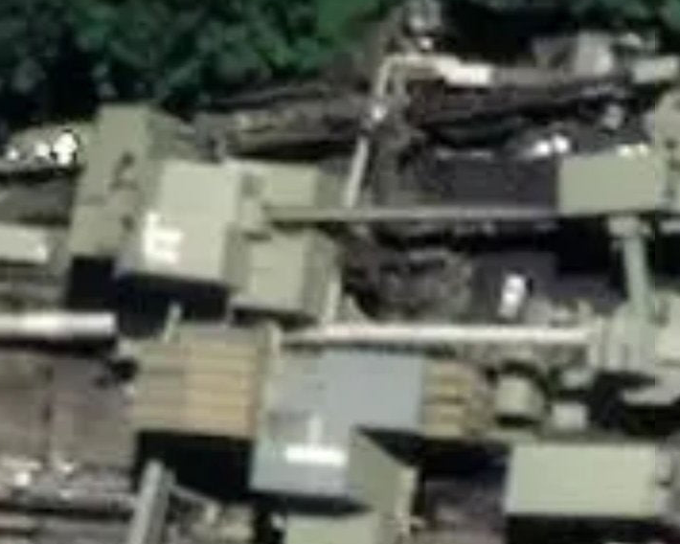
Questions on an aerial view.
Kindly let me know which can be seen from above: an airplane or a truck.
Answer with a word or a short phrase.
truck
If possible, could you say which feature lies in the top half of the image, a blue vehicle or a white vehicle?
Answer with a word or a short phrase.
white vehicle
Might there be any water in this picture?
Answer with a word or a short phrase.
No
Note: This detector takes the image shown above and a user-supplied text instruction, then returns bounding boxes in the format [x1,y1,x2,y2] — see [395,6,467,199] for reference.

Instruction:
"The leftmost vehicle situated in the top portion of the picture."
[5,140,23,172]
